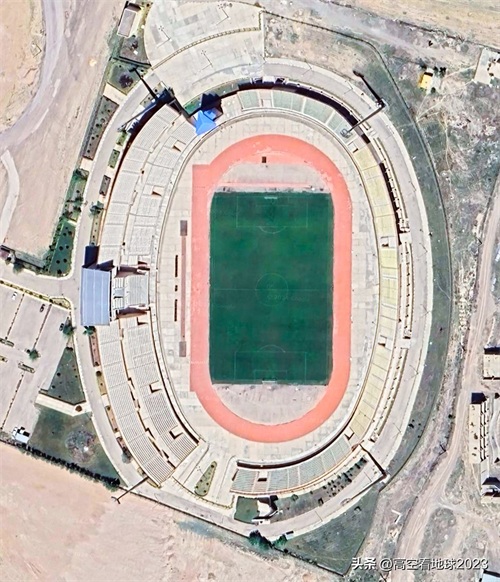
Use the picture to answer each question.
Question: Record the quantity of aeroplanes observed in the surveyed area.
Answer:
0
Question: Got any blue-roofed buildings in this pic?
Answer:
Yes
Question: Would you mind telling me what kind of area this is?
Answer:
sports ground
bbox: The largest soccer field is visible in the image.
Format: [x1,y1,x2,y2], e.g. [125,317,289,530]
[209,193,336,384]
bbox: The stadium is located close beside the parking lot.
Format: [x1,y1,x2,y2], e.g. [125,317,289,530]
[81,76,410,493]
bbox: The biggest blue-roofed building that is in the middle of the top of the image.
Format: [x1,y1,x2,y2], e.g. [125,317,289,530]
[198,104,226,135]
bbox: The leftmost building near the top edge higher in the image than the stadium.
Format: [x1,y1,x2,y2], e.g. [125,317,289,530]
[116,7,141,38]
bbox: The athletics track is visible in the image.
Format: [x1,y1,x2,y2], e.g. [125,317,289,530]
[190,135,352,443]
